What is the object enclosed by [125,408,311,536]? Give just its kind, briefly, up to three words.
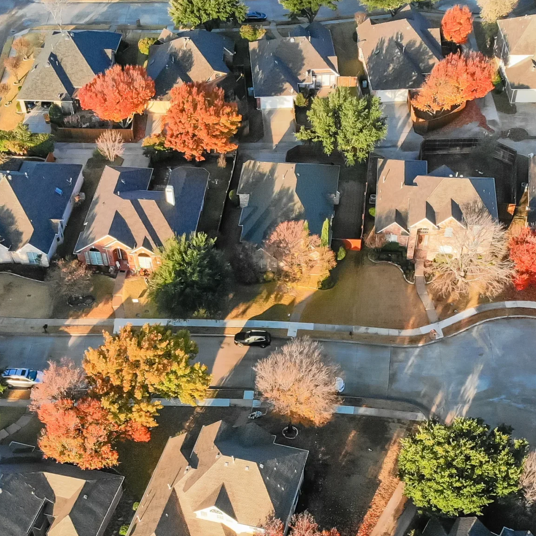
house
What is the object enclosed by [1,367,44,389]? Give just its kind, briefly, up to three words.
car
